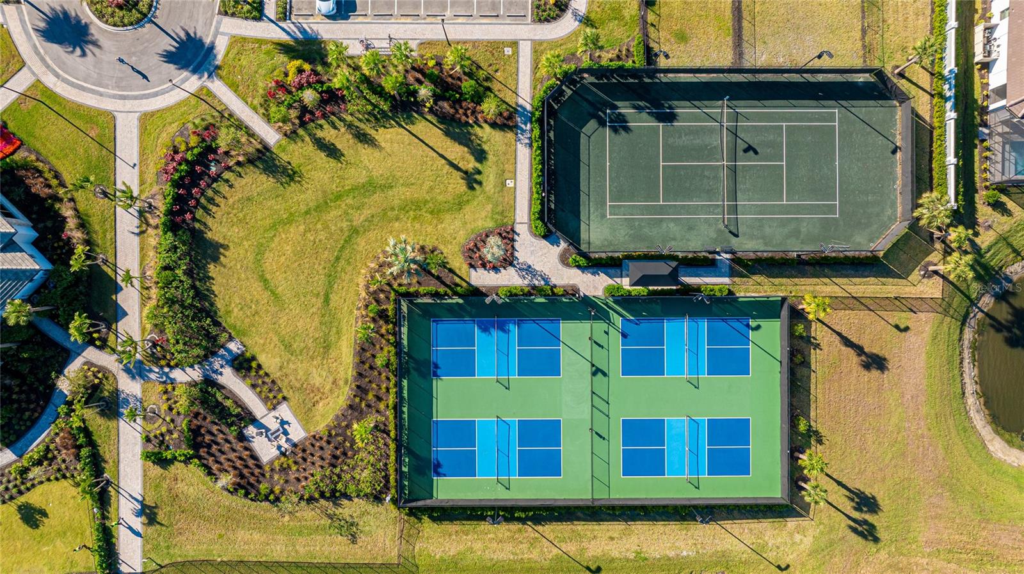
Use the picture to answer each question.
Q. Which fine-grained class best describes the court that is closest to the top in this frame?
tennis court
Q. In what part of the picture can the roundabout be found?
top left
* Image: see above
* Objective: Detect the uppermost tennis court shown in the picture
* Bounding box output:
[545,76,896,252]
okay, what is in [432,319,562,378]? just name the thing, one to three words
sports court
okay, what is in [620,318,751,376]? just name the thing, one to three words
sports court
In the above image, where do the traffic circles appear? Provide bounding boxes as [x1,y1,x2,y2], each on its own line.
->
[1,0,237,112]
